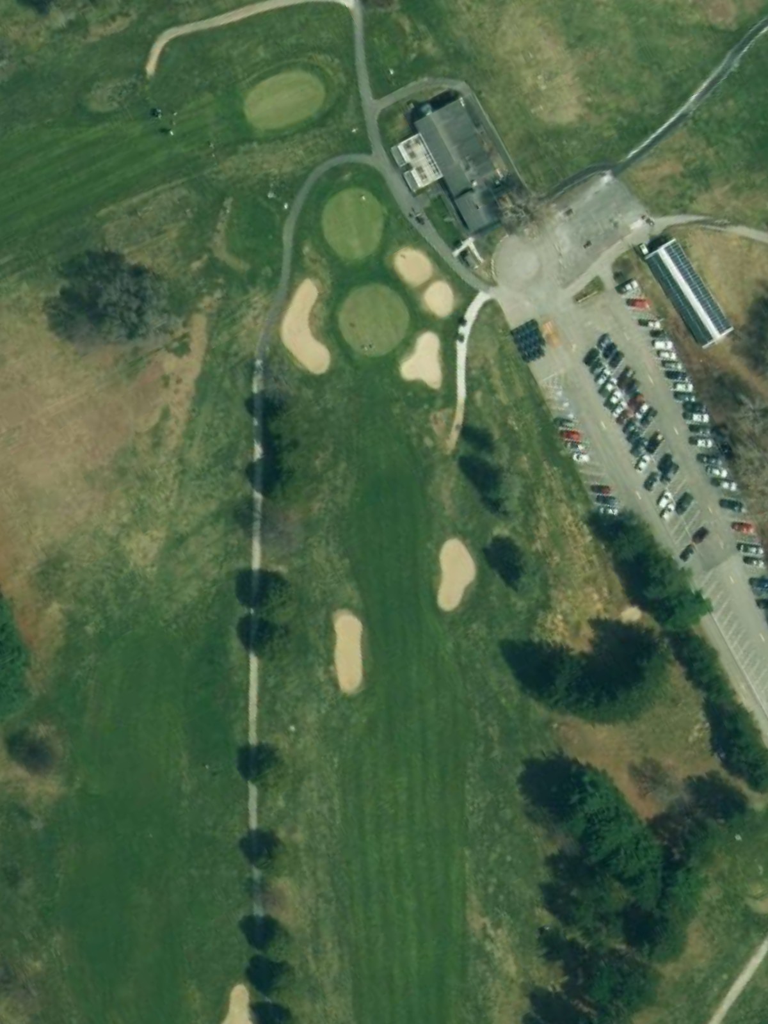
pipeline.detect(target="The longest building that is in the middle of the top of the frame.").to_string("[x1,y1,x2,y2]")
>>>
[415,97,505,232]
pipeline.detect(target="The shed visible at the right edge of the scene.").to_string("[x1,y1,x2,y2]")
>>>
[646,238,735,348]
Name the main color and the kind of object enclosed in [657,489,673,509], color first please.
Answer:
white car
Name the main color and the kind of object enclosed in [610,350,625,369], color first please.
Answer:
black car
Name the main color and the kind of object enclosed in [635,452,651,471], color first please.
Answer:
white car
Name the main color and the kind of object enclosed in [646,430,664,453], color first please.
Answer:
black vehicle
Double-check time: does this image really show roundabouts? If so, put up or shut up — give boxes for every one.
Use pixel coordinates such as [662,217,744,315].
[494,234,542,282]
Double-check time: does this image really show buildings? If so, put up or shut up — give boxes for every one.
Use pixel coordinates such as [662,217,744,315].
[415,97,505,232]
[646,238,735,348]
